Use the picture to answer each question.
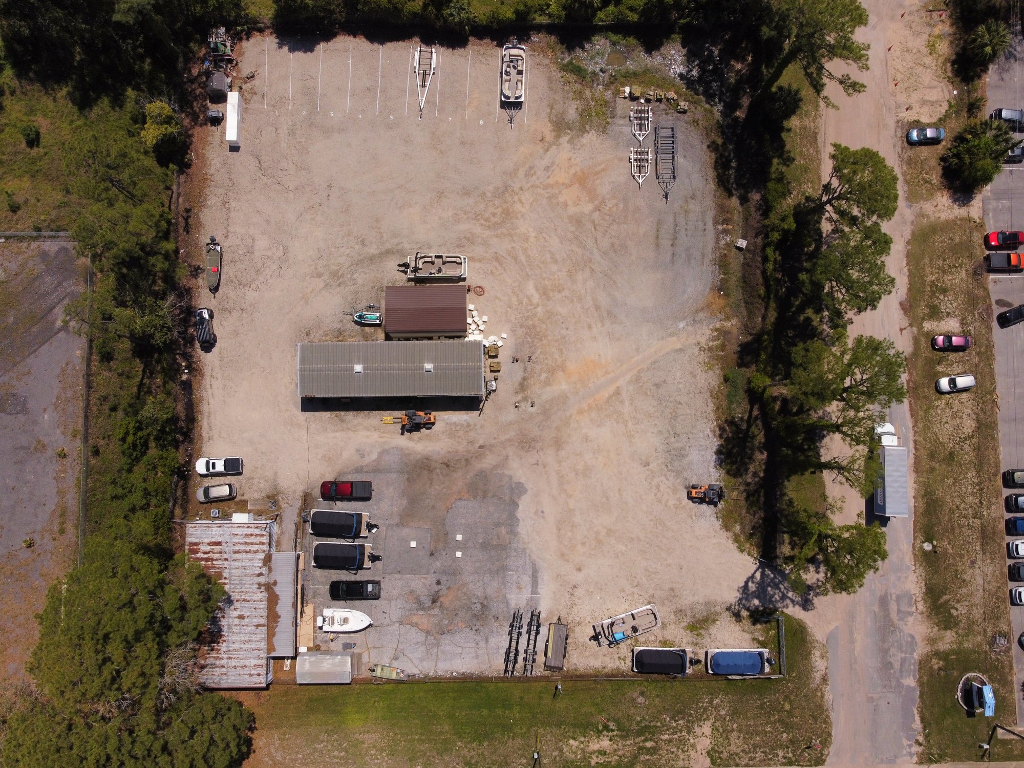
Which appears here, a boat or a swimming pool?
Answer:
boat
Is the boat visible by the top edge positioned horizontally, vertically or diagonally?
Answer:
vertically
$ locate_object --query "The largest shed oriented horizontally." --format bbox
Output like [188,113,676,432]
[296,341,484,399]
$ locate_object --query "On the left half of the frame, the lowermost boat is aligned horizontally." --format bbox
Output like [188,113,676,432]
[368,661,410,681]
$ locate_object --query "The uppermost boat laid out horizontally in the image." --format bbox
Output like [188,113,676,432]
[397,255,467,278]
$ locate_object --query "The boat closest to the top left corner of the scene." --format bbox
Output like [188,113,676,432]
[207,235,222,291]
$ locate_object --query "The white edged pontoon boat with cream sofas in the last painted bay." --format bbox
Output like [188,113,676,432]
[502,38,525,105]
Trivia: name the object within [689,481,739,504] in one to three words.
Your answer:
work vehicle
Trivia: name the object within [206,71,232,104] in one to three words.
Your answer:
shed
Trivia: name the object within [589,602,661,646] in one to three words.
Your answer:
boat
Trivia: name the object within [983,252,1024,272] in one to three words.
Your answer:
vehicle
